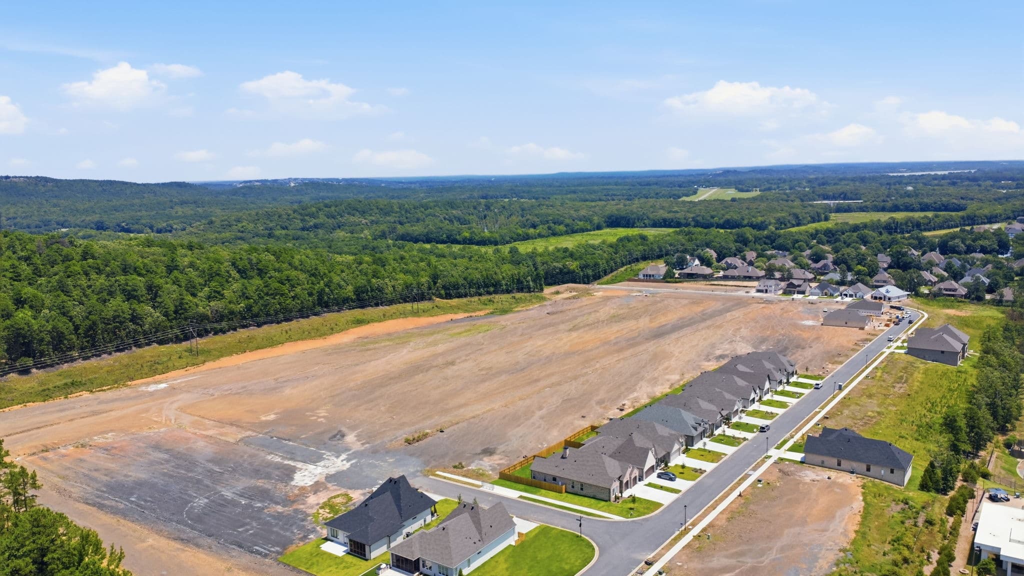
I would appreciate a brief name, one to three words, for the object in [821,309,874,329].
house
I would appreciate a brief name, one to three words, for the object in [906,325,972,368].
house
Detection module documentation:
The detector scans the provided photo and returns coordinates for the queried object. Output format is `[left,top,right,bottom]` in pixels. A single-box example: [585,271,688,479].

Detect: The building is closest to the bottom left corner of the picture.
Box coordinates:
[322,477,446,559]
